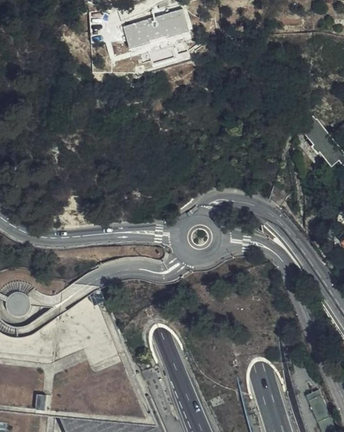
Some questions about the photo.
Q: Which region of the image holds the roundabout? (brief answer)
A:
center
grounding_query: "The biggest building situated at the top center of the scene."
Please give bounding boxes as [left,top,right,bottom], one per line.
[123,9,194,74]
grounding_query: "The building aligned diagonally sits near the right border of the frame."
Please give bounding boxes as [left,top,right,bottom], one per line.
[304,117,344,168]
